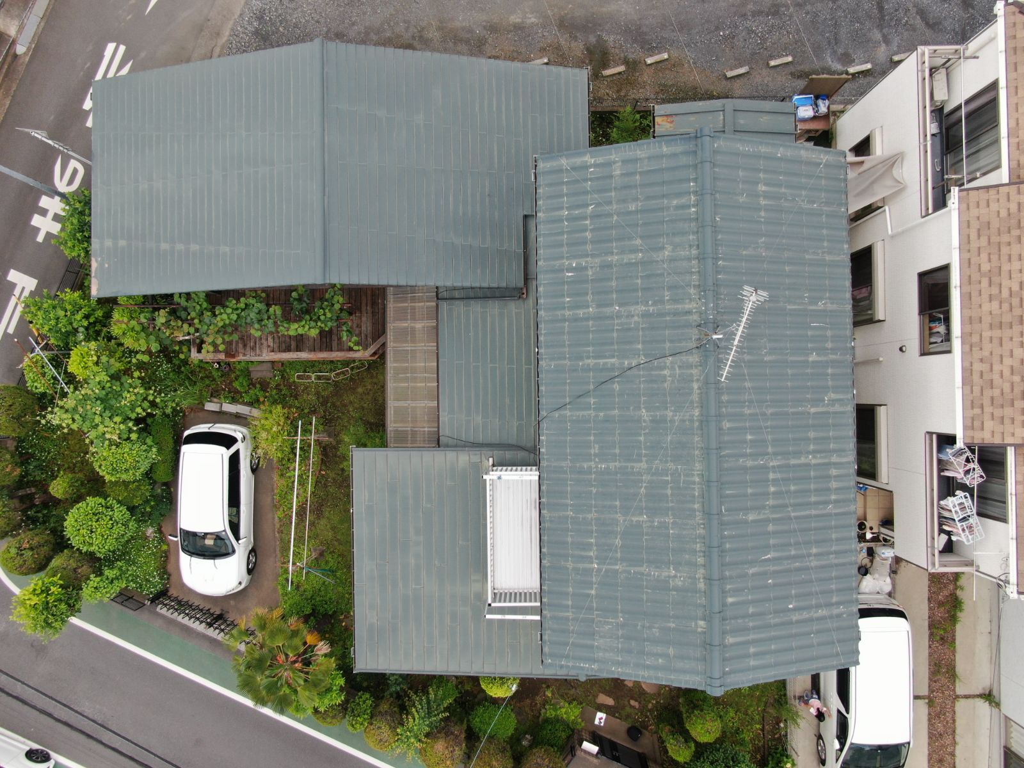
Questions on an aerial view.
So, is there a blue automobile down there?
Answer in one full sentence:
No, the frame has no blue automobile in it.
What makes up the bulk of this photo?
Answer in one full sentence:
For the most part, this view shows buildings.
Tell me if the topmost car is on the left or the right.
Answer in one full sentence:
The topmost car appears in the left half of the scene.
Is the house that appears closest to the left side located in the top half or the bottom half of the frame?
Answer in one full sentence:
The house that appears closest to the left side sits in the top half of the picture.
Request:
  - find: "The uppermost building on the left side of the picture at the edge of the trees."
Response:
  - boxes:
[89,33,593,299]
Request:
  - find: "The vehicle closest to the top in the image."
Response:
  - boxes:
[164,422,262,596]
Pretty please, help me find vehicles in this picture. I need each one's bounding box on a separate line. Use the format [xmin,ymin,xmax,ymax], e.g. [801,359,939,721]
[0,733,57,768]
[164,422,262,596]
[813,591,916,768]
